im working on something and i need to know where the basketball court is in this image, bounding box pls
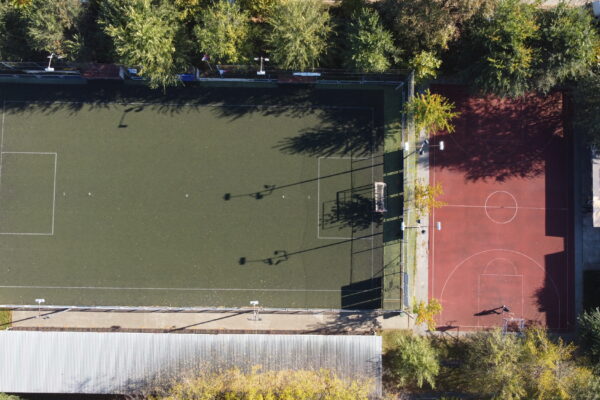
[428,88,574,331]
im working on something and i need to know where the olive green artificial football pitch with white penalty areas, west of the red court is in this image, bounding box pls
[0,78,404,308]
